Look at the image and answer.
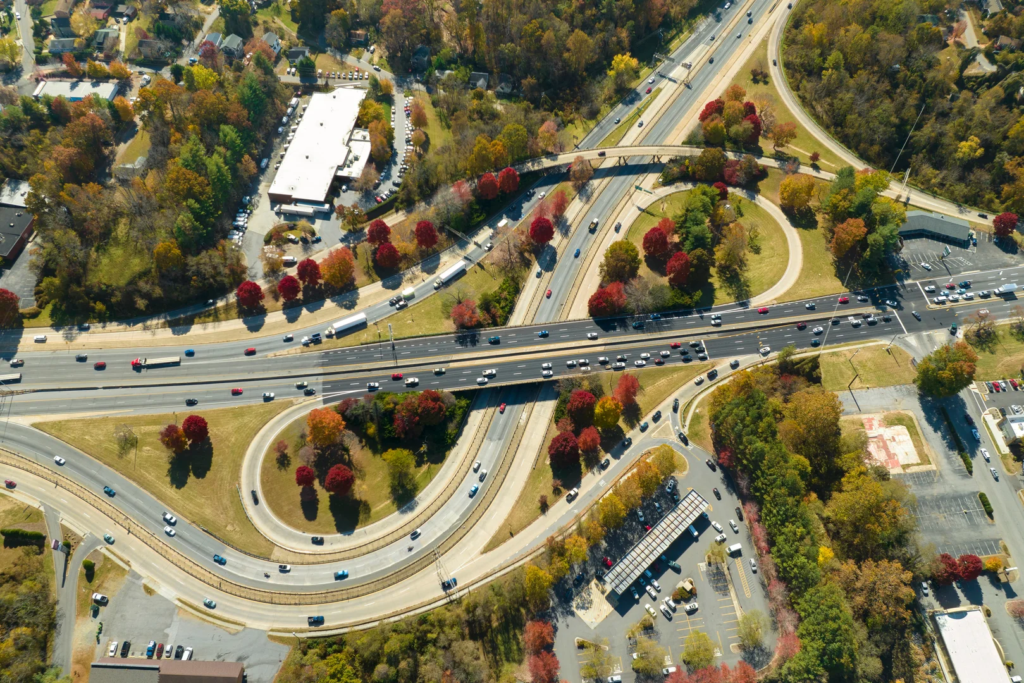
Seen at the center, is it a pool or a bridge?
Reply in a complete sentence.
The feature located at the center is a bridge.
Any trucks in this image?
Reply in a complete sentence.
Yes, this view includes a truck.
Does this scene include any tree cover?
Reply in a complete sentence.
Yes, there's tree cover in this view.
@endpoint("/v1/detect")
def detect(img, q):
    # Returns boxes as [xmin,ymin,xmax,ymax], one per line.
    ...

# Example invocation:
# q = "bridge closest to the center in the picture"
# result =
[430,314,623,393]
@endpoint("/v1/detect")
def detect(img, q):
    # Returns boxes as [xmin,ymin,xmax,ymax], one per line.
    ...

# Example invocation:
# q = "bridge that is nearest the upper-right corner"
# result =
[472,143,779,186]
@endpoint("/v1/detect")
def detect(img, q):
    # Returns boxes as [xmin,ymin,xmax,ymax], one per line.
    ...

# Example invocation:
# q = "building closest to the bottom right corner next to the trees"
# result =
[927,605,1010,683]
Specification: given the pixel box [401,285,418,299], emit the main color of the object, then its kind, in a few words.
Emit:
white vehicle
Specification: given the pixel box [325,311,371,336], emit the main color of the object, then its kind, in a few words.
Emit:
white truck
